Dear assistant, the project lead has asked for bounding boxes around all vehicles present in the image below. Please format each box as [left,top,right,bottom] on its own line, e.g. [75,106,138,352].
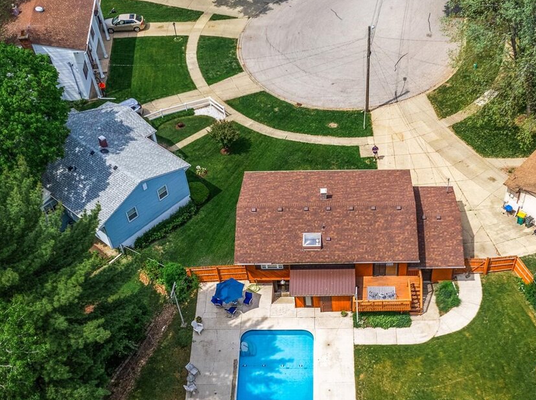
[109,92,150,116]
[104,14,149,35]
